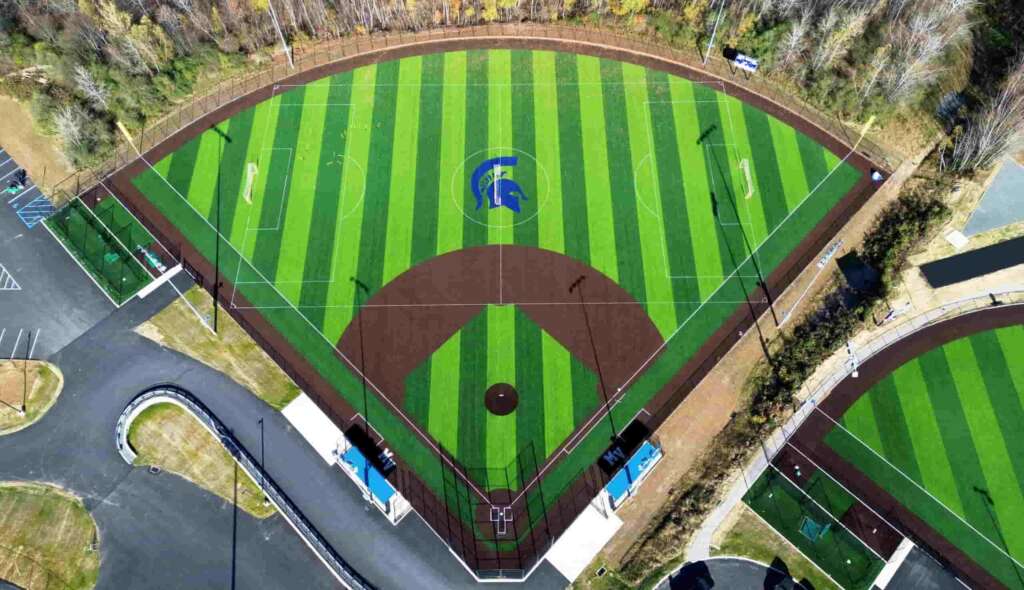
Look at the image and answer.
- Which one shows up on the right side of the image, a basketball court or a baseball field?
baseball field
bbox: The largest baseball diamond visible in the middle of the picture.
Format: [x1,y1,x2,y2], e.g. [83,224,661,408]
[105,37,889,579]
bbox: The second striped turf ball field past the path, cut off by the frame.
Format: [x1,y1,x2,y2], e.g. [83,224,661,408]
[789,305,1024,590]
